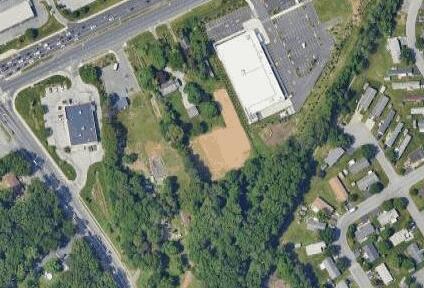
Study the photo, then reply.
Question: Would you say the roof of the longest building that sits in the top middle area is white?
Yes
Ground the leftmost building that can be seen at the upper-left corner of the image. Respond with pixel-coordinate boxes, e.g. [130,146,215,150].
[0,1,33,31]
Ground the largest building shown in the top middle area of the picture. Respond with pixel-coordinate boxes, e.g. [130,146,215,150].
[213,26,287,123]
